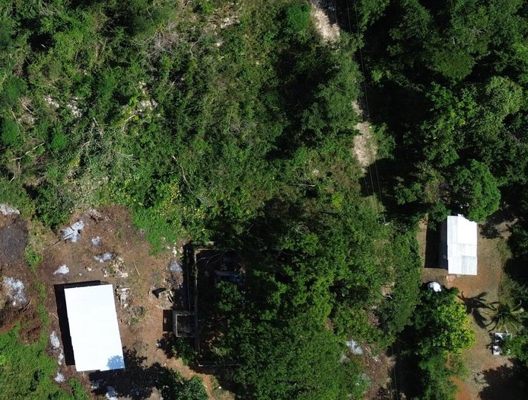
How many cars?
zero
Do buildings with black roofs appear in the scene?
No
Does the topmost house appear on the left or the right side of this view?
right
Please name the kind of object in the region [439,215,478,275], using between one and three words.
house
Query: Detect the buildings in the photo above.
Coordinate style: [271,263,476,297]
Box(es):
[65,282,125,371]
[439,215,478,275]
